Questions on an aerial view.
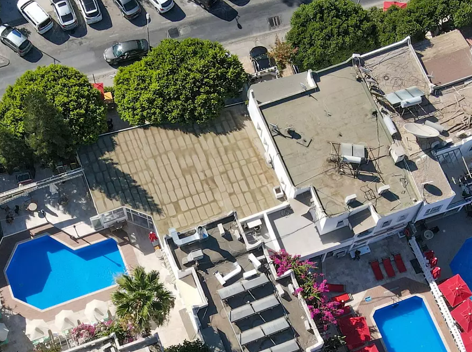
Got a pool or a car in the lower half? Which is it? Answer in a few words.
pool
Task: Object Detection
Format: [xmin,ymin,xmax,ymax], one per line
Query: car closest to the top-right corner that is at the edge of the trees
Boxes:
[250,47,274,83]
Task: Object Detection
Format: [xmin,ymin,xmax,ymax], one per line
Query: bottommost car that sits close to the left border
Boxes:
[0,24,35,61]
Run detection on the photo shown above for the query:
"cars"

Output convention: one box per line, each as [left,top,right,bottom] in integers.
[103,39,149,67]
[16,0,56,37]
[149,0,175,15]
[76,0,103,27]
[0,24,35,61]
[52,0,82,33]
[250,47,274,83]
[114,0,141,22]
